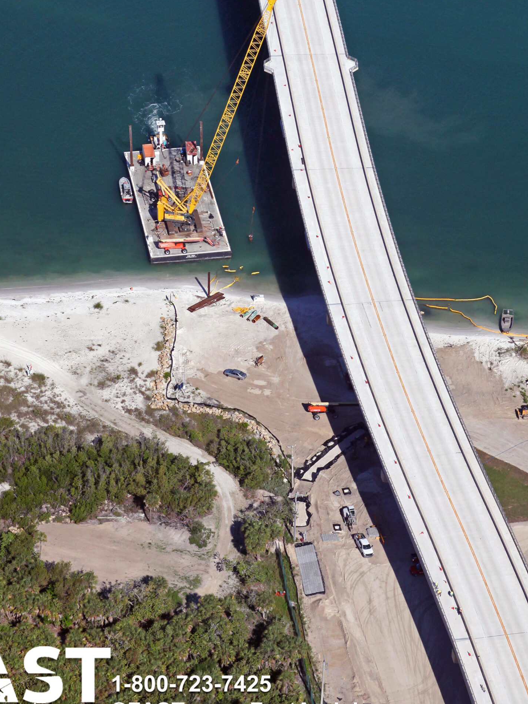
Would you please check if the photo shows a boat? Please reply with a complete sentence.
Yes, there's a boat here.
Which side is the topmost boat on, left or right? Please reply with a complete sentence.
It is on the left.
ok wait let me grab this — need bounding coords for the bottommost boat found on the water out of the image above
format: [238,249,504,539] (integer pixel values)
[501,307,514,334]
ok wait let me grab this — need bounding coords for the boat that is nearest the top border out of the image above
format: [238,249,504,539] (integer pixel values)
[148,109,173,148]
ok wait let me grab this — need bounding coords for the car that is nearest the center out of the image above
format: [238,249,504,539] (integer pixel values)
[224,368,248,380]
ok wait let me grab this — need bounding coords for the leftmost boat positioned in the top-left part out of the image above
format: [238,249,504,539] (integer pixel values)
[119,174,134,205]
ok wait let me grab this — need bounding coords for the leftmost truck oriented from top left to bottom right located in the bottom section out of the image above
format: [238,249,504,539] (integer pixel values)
[352,534,374,560]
